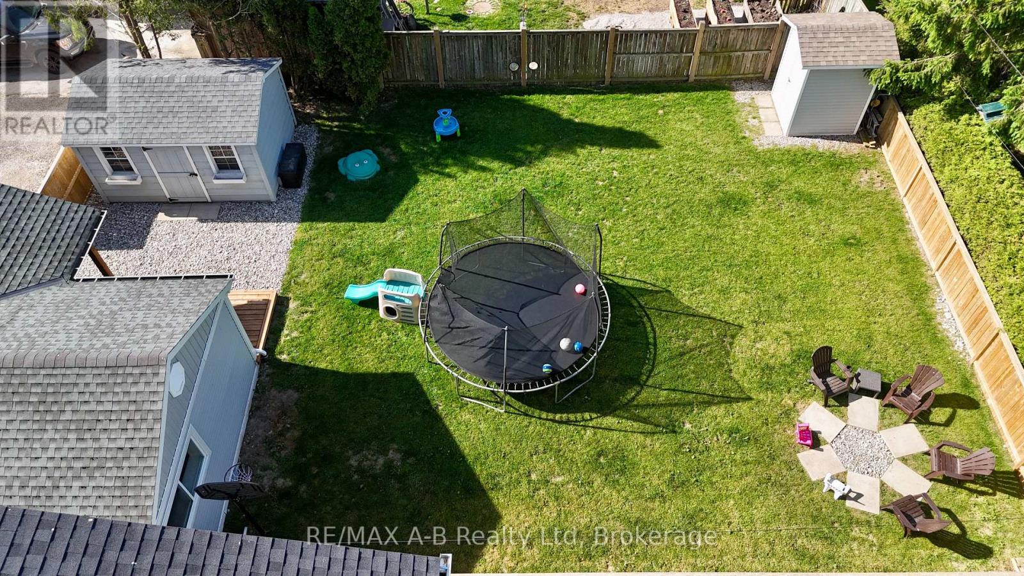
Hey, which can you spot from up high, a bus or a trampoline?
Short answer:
trampoline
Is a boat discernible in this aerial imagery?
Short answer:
No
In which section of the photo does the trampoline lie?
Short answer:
center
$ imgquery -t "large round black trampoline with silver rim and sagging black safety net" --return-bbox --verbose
[417,184,611,413]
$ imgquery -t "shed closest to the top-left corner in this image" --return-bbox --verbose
[62,61,296,204]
